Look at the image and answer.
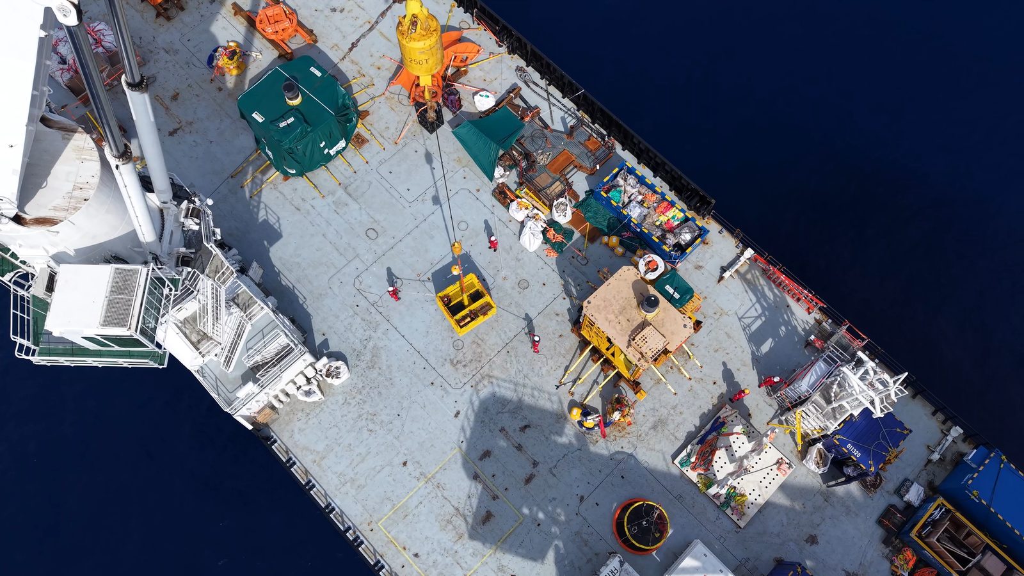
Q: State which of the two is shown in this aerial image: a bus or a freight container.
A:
freight container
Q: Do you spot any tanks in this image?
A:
Yes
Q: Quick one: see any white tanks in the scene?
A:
No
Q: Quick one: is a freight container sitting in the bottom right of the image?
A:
Yes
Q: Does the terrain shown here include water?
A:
Yes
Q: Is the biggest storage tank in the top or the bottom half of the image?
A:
bottom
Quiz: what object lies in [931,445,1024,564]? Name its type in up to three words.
shipping container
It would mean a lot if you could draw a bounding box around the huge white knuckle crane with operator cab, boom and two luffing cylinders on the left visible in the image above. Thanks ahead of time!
[0,0,199,370]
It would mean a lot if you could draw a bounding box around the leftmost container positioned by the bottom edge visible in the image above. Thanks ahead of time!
[659,540,733,576]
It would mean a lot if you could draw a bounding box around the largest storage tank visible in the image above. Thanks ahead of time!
[612,494,674,559]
